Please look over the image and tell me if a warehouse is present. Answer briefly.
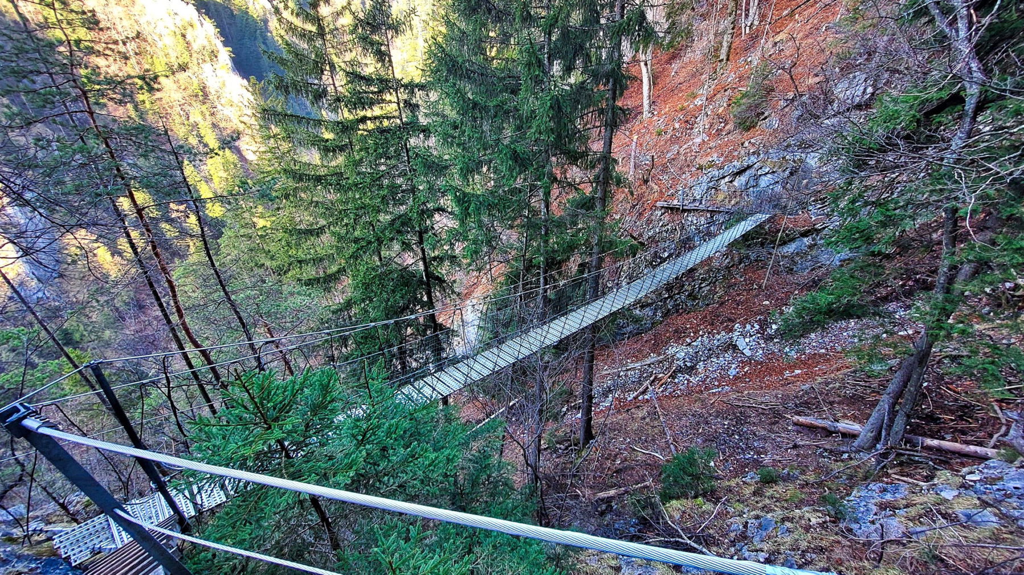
No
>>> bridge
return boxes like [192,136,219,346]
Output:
[0,169,807,517]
